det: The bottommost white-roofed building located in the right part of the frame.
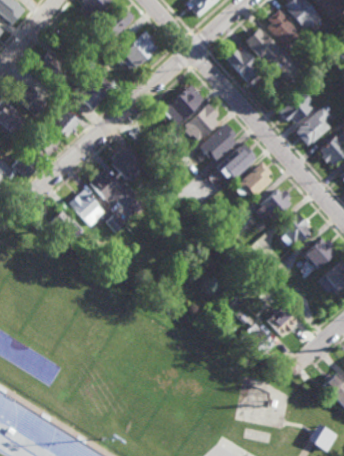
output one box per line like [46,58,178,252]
[309,426,338,453]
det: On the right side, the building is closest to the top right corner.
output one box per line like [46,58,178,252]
[282,0,322,32]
